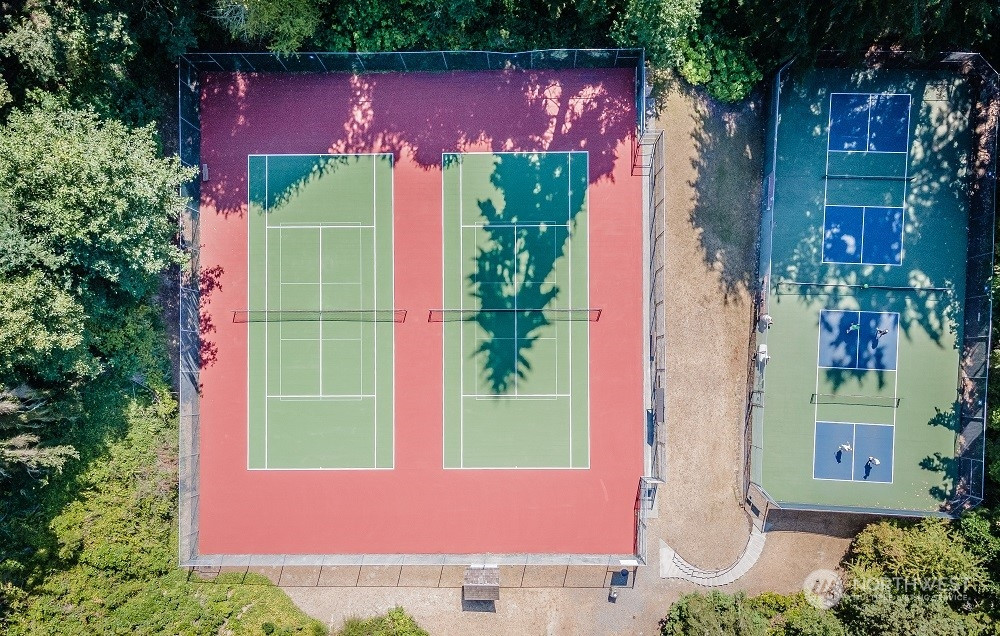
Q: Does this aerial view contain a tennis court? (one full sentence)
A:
Yes, you can see a tennis court in this photo.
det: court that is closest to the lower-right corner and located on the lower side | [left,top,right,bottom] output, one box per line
[813,309,899,484]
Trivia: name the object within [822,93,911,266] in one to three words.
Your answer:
sports court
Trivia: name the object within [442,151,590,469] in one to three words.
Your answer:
tennis court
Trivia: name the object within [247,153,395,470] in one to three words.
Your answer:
tennis court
